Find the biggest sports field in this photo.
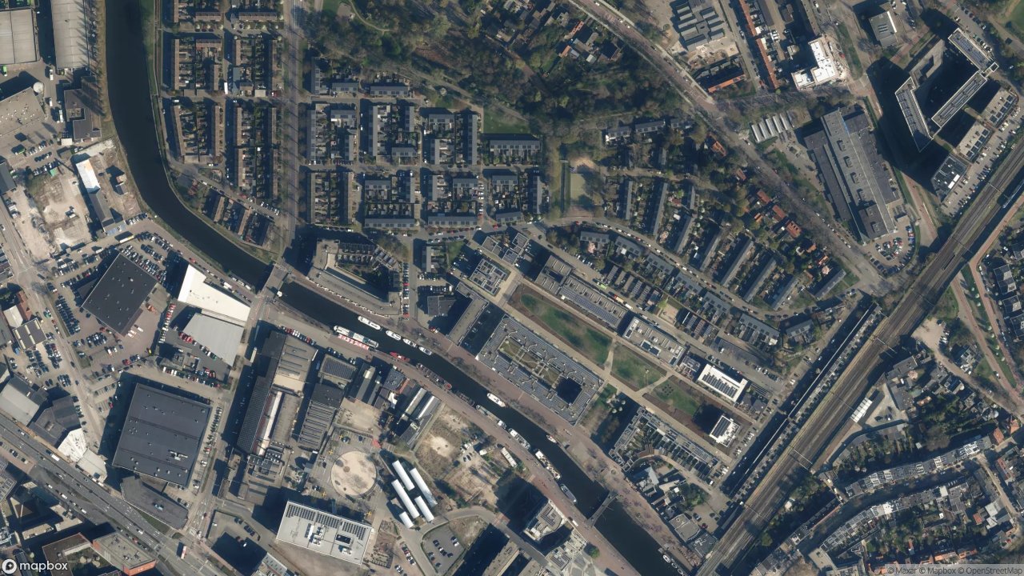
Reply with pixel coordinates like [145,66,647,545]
[571,174,602,209]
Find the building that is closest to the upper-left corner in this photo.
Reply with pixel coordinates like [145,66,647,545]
[0,8,38,66]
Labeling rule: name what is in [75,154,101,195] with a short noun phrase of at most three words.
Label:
shed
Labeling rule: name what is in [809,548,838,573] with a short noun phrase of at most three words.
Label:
building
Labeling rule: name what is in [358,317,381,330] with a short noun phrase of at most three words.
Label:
boat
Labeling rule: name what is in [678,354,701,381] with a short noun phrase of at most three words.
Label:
greenhouse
